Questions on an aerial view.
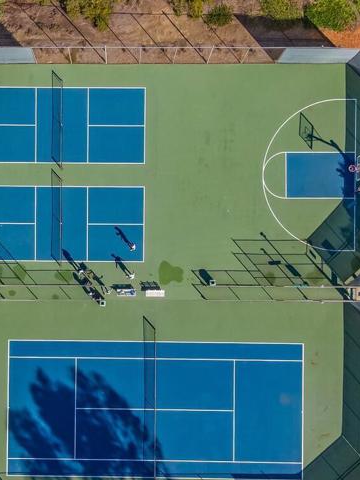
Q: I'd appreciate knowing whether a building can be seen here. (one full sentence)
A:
No, I can't see a single building in this photo.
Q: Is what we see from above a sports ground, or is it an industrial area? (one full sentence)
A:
It's a sports ground.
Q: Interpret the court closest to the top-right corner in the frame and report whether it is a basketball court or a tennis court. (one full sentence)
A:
The court closest to the top-right corner can be classified as a basketball court.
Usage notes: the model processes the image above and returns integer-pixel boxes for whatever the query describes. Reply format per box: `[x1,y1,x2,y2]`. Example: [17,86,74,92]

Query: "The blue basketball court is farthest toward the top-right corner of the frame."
[261,98,356,251]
